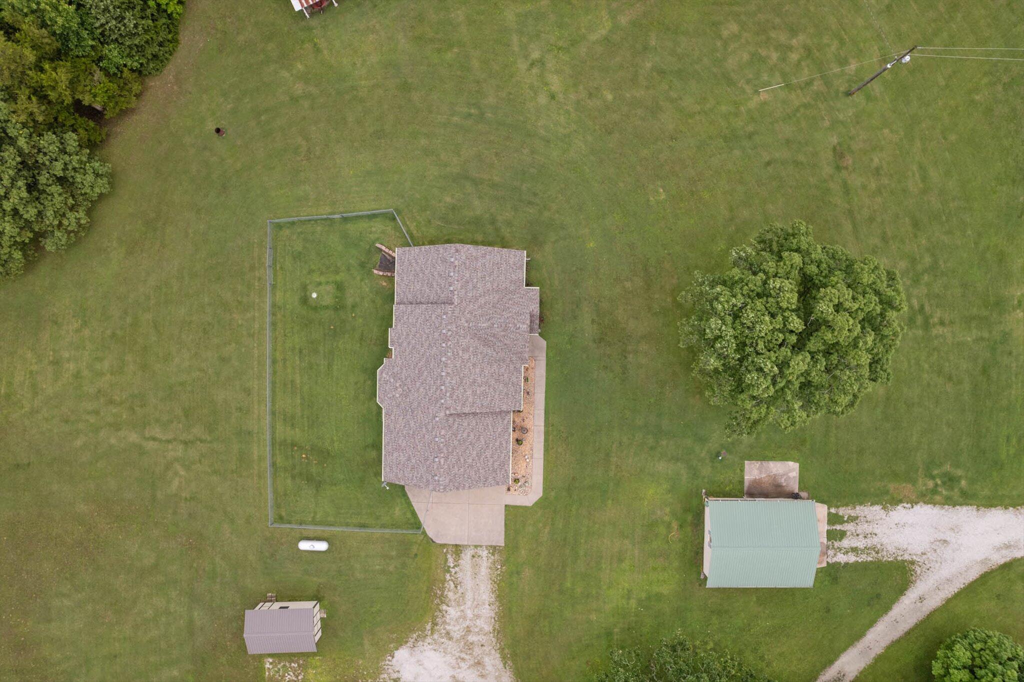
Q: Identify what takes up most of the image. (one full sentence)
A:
What you mostly see from above here is grass.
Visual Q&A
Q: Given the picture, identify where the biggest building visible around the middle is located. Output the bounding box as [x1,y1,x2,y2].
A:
[376,244,540,492]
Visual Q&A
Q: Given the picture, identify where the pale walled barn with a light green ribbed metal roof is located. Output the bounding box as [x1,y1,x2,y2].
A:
[703,496,828,588]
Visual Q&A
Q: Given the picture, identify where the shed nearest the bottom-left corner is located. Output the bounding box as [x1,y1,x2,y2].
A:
[243,601,322,654]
